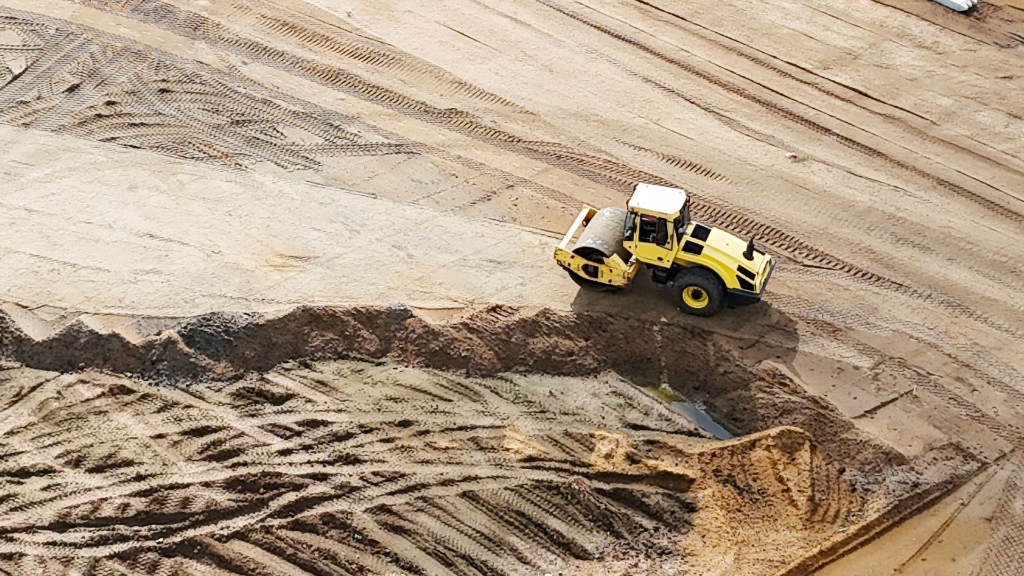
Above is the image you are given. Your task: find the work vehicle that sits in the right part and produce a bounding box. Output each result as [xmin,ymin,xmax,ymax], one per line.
[553,180,776,318]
